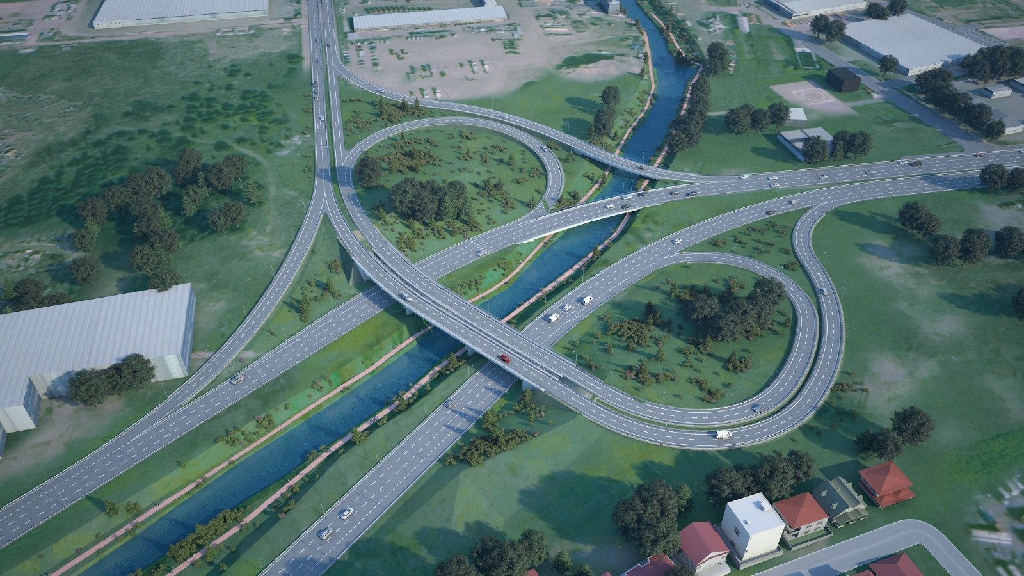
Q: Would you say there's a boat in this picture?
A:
No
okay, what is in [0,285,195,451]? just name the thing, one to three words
warehouse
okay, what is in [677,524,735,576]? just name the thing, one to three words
house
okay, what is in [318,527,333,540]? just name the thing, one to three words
vehicle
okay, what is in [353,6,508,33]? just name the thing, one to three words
building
